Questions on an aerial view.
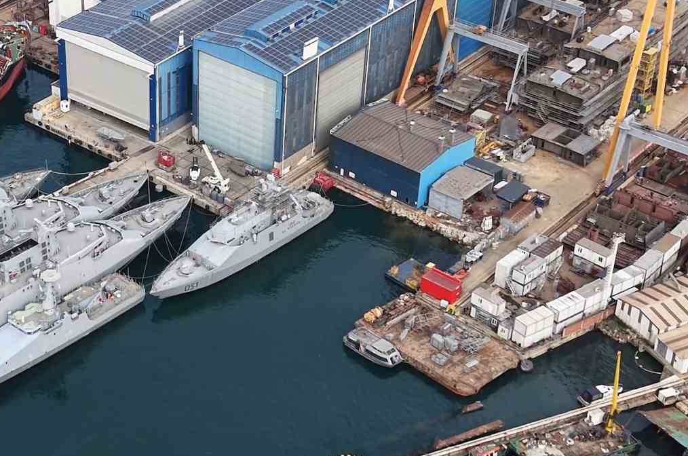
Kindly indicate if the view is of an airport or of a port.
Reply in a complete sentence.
What you see here is a port.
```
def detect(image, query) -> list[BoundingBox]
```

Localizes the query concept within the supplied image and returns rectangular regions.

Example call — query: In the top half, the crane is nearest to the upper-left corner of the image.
[196,141,237,198]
